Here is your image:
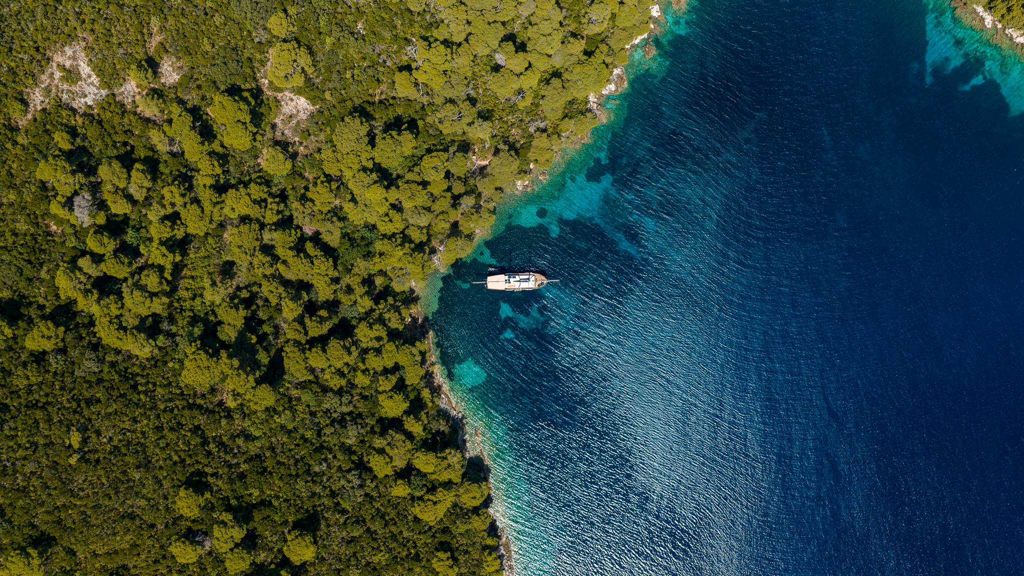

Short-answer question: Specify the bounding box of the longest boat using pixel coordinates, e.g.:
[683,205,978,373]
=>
[472,273,560,292]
